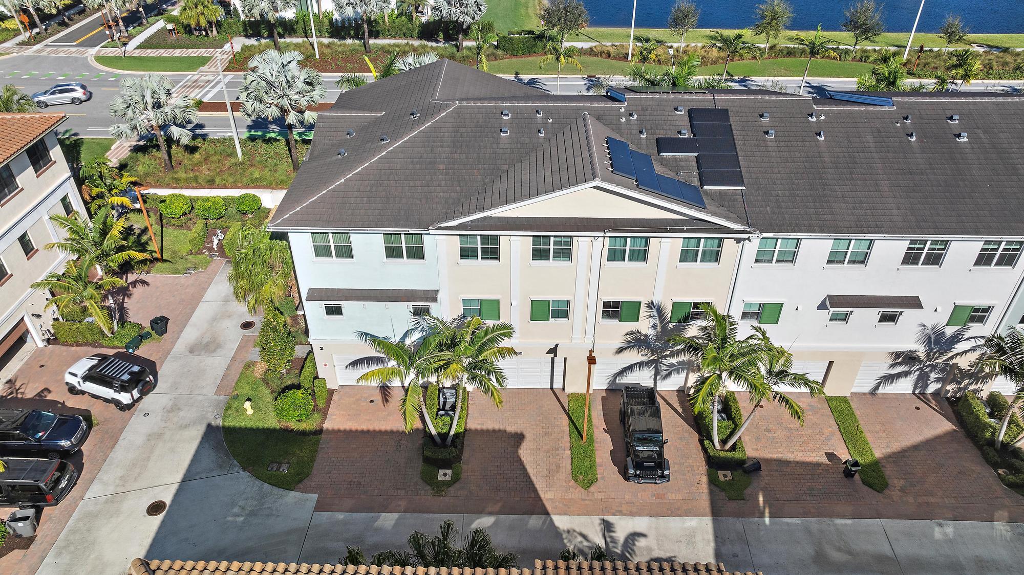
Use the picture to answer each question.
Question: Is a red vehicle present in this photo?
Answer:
No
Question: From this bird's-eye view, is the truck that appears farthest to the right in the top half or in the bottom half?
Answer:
bottom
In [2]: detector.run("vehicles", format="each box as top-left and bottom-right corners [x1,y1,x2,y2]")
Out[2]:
[0,444,77,508]
[0,400,89,453]
[617,380,673,484]
[26,78,92,109]
[57,350,161,411]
